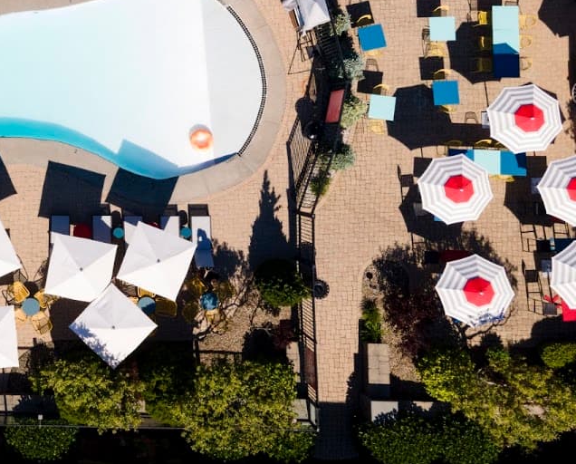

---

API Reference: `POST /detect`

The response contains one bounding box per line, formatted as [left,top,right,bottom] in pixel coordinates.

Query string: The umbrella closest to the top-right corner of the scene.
[476,82,561,156]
